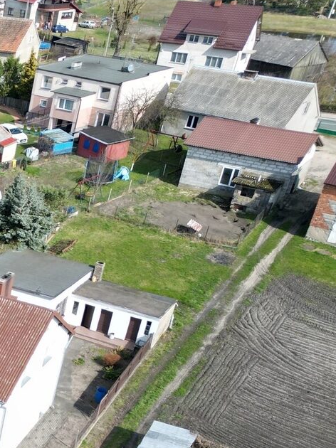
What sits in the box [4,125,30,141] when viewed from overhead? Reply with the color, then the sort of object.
white car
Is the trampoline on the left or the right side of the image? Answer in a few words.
left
